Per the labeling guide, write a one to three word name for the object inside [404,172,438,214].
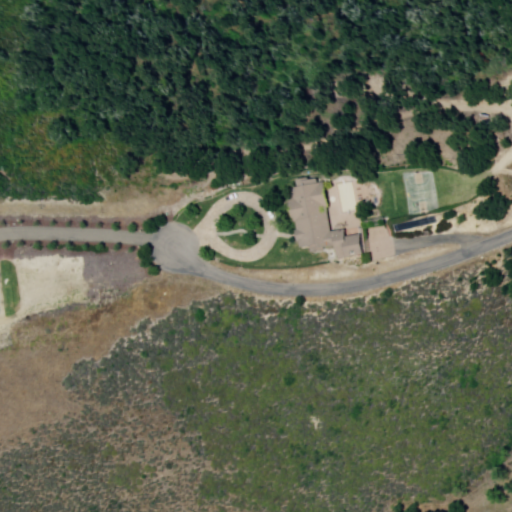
sports court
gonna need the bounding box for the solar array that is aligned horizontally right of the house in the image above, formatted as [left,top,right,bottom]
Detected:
[394,216,437,232]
